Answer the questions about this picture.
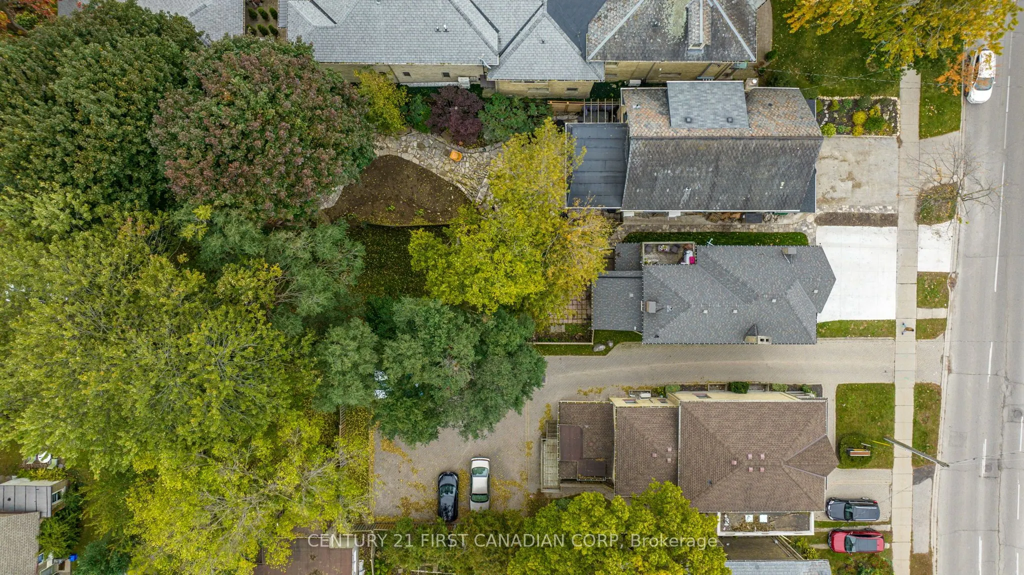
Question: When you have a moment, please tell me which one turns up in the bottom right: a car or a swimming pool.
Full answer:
The feature located in the bottom right is a car.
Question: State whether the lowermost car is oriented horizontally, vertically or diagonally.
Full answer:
The lowermost car has been laid out horizontally relative to the frame.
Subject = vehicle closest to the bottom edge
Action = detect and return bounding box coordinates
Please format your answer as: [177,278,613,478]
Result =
[826,526,885,556]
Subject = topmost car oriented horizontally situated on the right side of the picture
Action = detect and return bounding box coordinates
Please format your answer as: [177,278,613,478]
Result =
[824,495,881,523]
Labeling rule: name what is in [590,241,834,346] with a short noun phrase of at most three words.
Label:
house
